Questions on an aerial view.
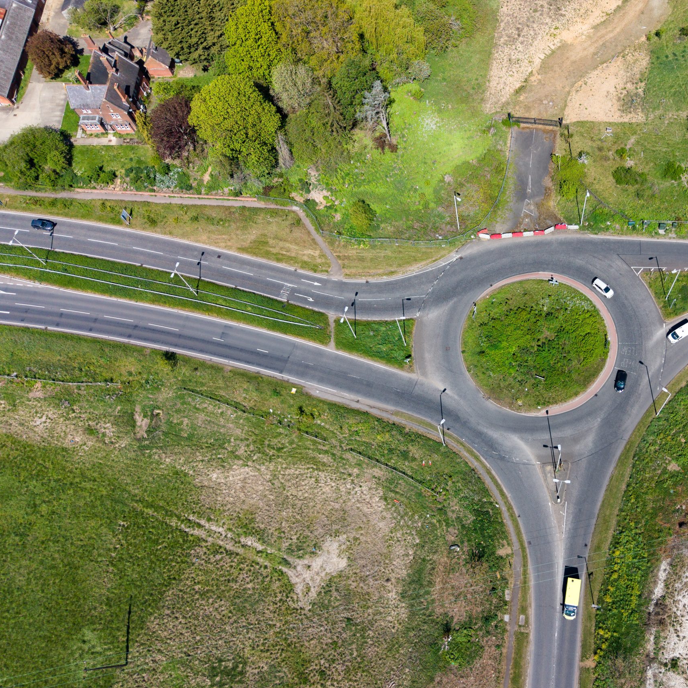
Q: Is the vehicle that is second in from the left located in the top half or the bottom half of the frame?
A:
bottom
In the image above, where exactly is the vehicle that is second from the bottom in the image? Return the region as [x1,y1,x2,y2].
[614,369,627,394]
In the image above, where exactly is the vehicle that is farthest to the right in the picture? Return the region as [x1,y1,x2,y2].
[667,323,688,344]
